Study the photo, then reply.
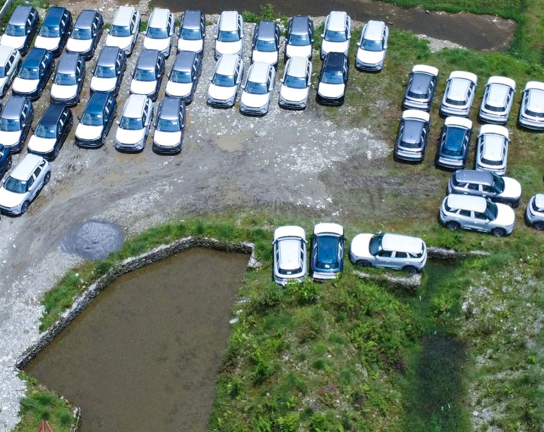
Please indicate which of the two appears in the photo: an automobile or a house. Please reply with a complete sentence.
It is an automobile that can be seen here.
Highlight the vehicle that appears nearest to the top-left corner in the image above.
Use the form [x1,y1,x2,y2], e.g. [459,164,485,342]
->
[0,6,41,56]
